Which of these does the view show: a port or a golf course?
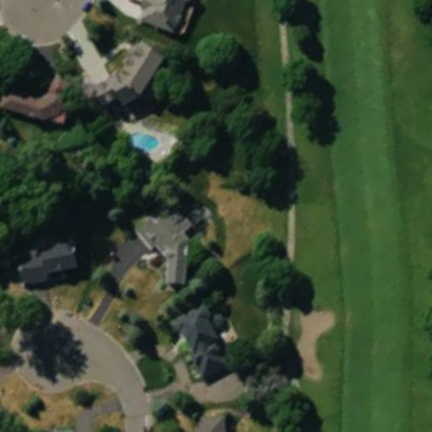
golf course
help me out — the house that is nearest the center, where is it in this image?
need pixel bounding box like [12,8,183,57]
[136,214,191,284]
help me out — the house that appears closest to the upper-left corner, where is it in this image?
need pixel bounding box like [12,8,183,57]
[0,71,66,124]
